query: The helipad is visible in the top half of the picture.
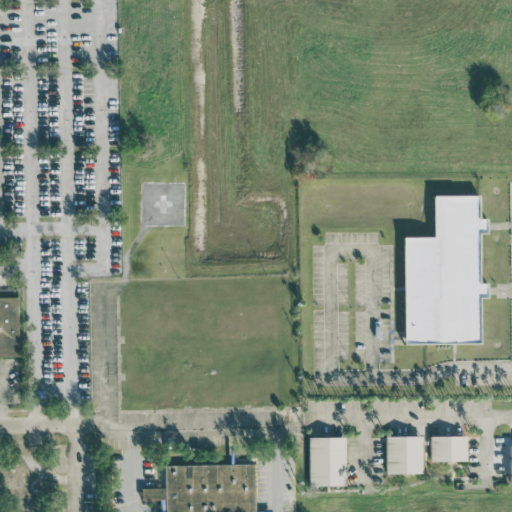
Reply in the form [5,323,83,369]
[142,183,186,226]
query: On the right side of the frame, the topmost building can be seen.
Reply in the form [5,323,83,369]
[396,195,491,347]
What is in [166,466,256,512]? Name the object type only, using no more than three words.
building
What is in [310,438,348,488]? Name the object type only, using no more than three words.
house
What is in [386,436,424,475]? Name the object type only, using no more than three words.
house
